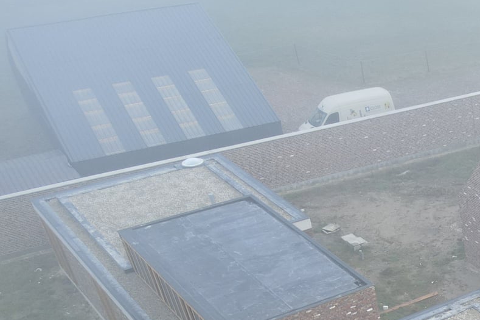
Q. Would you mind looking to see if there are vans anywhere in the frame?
Yes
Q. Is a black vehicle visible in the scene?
No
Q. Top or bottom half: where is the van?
top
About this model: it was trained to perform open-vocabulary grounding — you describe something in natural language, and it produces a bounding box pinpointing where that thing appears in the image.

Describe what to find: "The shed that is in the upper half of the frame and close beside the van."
[0,4,288,182]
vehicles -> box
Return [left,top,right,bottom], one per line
[297,89,394,132]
